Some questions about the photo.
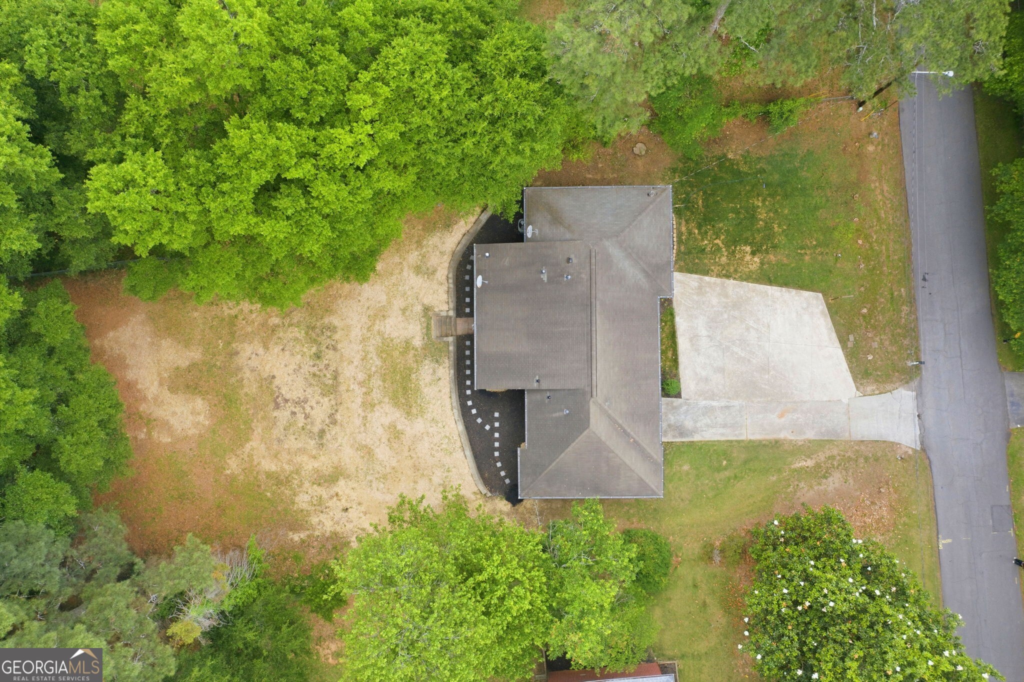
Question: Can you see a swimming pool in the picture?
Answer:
No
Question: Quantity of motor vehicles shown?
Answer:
0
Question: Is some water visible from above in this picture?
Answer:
No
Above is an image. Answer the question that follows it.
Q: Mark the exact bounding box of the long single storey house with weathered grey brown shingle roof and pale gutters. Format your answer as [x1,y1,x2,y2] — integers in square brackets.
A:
[472,184,675,500]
